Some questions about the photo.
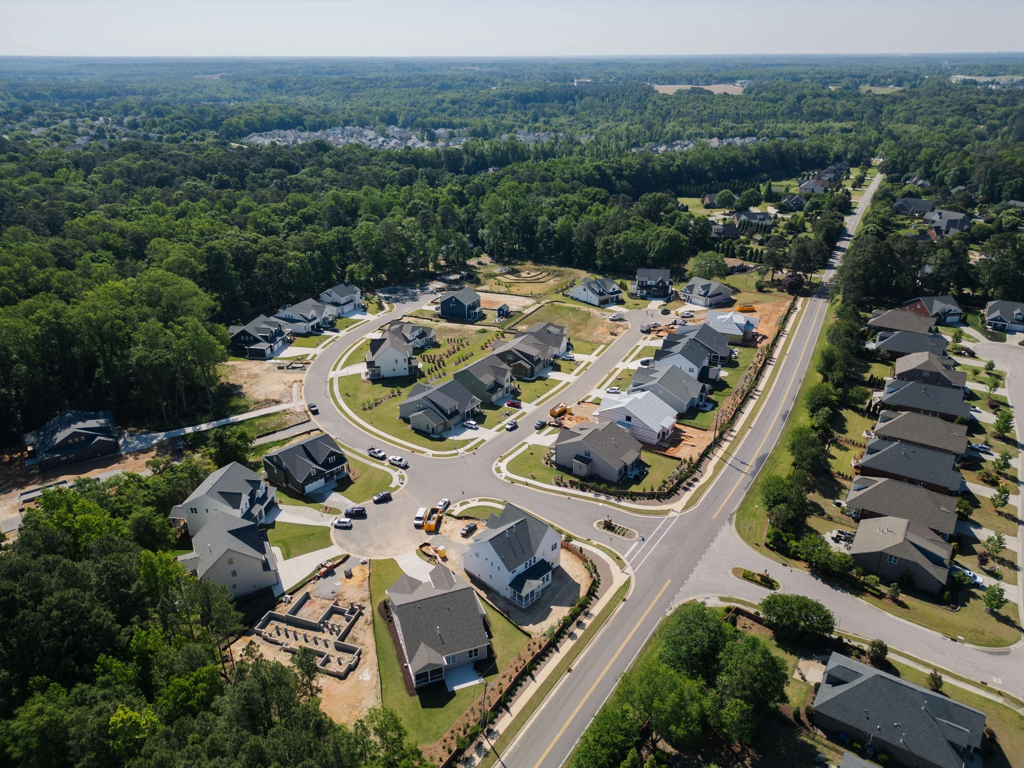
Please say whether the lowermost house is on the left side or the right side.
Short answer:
right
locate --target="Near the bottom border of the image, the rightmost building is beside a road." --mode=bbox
[824,649,1003,768]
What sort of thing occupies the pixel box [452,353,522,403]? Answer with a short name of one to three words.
building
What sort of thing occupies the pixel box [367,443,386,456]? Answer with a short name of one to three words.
vehicle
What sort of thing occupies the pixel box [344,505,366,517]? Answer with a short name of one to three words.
vehicle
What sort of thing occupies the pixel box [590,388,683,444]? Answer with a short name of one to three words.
house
